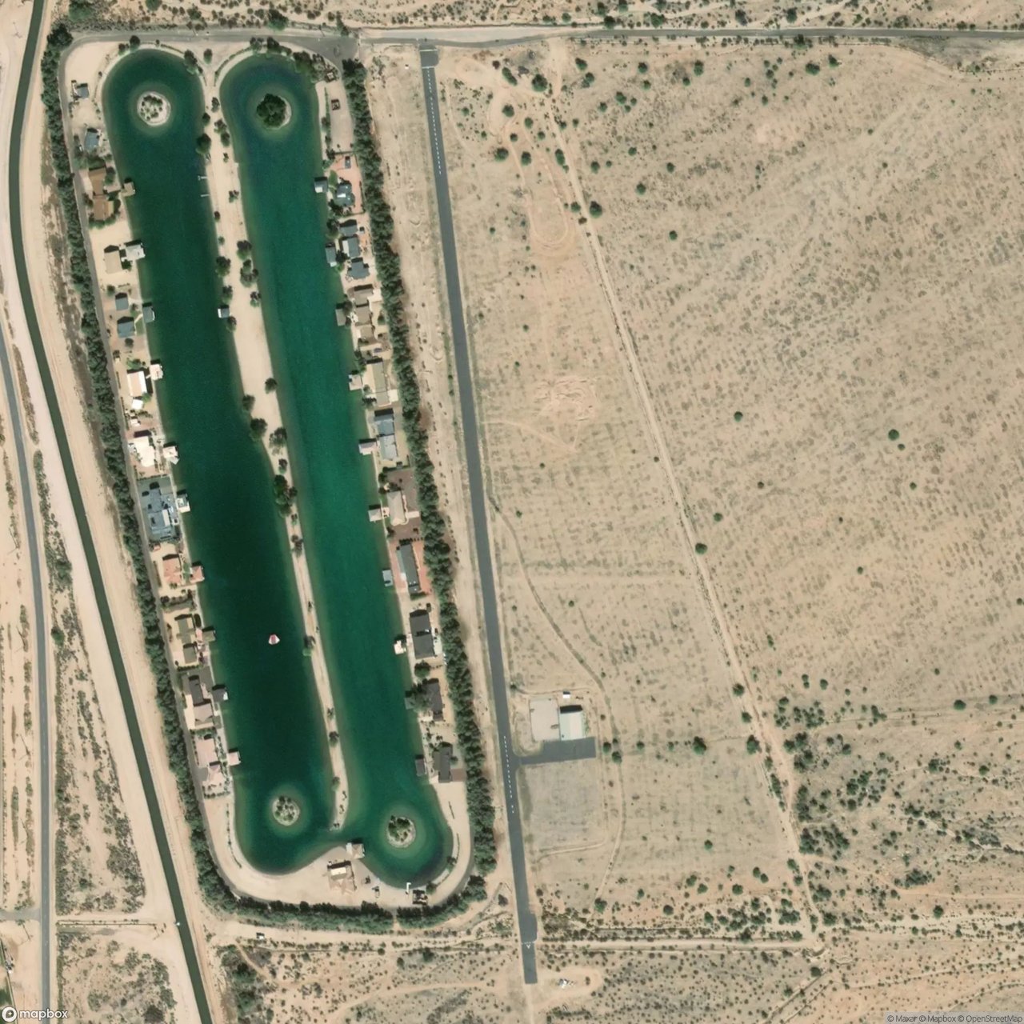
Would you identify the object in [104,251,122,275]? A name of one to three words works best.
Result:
house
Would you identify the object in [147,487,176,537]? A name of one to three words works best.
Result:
house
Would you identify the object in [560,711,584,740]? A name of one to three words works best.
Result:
hangar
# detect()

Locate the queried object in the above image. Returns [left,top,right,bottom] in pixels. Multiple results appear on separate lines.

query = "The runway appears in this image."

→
[419,40,596,984]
